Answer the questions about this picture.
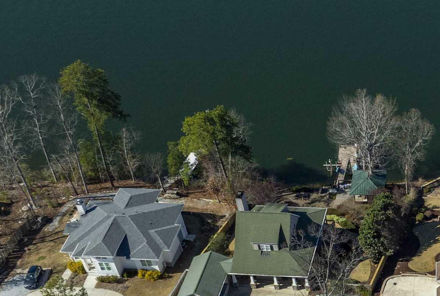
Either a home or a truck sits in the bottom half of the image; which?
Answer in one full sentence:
The feature located in the bottom half of the image is a home.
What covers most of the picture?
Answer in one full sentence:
What you mostly see from above here is water.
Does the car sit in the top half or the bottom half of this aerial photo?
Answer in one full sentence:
Seen from above, the car lies in the bottom half of the view.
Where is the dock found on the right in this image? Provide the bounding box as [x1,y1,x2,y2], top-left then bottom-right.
[331,141,362,185]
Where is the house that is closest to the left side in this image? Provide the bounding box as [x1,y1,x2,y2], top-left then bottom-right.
[57,188,193,279]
